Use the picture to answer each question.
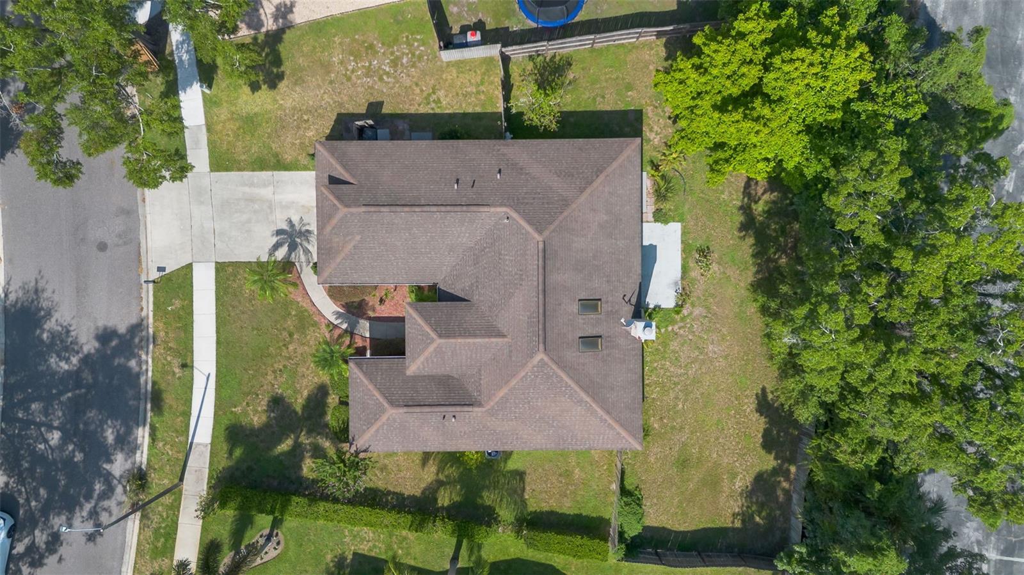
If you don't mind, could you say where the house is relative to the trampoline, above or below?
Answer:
below it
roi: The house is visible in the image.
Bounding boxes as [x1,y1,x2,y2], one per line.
[315,137,656,452]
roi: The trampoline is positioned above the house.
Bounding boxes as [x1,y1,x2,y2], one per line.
[517,0,584,31]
